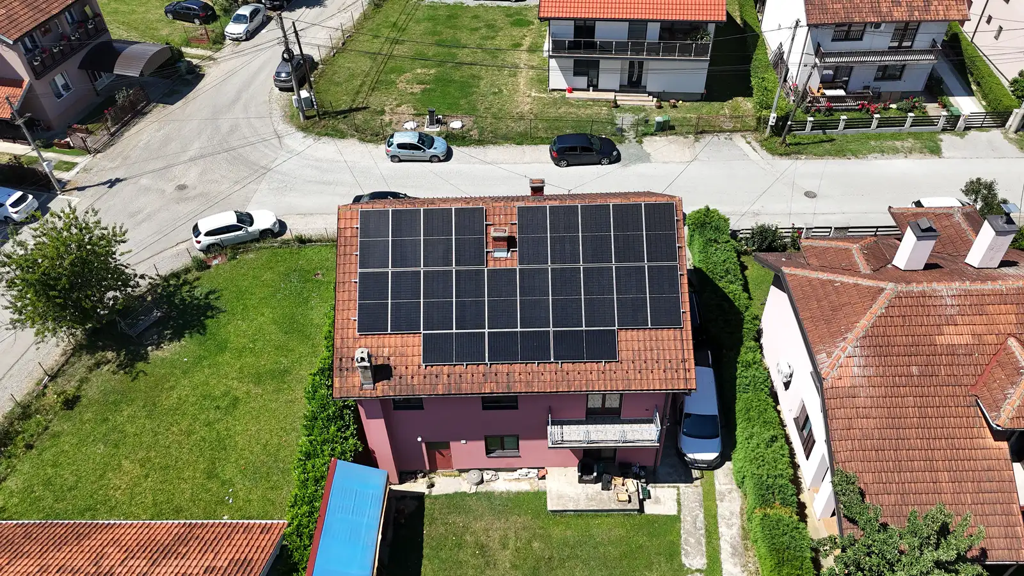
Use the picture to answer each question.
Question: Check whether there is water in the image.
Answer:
No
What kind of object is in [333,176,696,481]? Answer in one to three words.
house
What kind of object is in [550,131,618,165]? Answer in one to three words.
car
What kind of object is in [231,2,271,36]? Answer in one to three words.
car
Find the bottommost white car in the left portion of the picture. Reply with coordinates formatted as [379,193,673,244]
[192,202,278,249]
